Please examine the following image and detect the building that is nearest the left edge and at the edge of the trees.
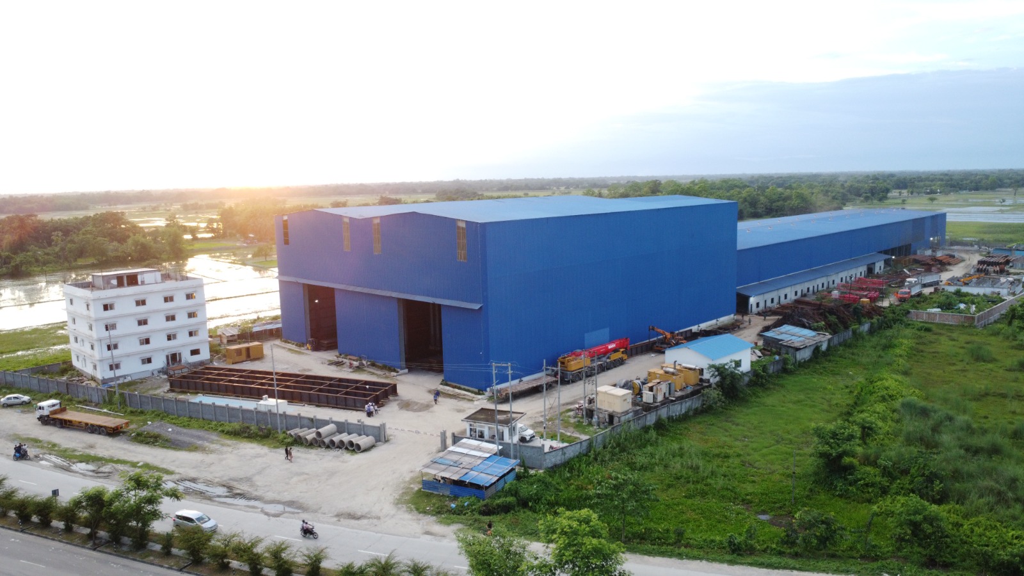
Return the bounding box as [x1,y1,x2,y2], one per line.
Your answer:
[63,263,210,379]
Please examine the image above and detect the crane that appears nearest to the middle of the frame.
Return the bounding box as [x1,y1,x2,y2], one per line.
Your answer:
[549,334,633,384]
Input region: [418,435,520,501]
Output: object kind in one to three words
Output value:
shed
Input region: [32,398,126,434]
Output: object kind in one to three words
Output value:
truck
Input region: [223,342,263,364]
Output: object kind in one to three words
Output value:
building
